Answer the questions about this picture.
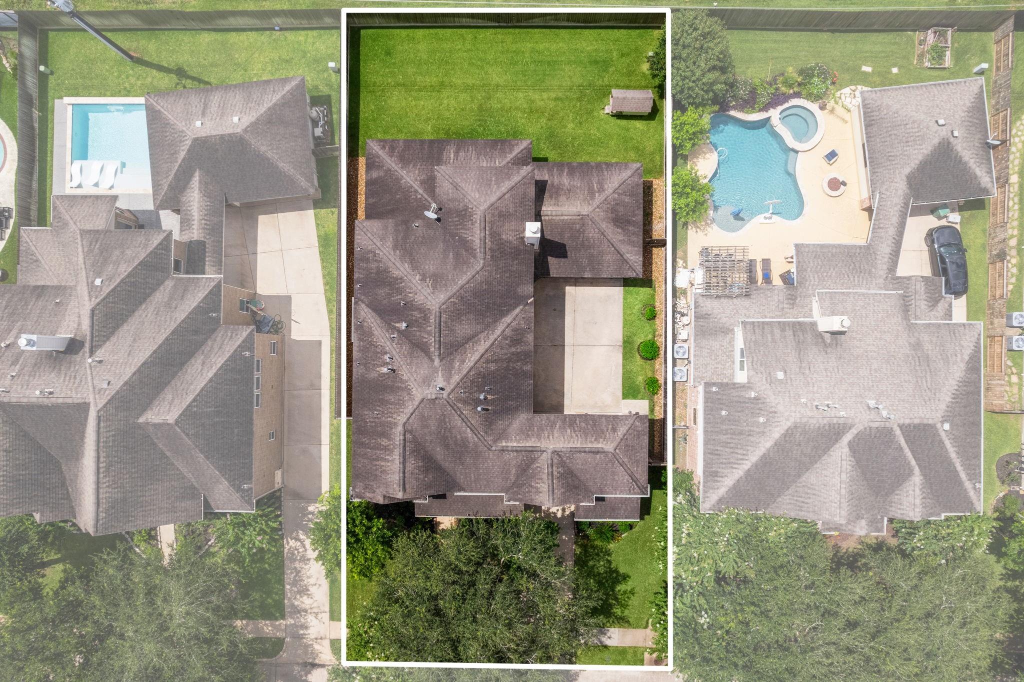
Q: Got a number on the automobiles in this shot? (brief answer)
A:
one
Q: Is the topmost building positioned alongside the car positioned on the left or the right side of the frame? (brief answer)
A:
right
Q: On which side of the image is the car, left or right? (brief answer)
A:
right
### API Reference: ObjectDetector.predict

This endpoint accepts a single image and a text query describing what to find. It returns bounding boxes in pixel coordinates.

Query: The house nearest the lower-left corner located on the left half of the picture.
[0,193,283,536]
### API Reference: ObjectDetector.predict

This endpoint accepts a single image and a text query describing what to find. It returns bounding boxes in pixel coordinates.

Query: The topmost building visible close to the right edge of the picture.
[848,76,998,210]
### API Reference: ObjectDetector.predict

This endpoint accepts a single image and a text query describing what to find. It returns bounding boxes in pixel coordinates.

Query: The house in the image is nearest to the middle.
[349,138,651,522]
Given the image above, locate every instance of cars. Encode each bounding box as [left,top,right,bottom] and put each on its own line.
[928,226,976,297]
